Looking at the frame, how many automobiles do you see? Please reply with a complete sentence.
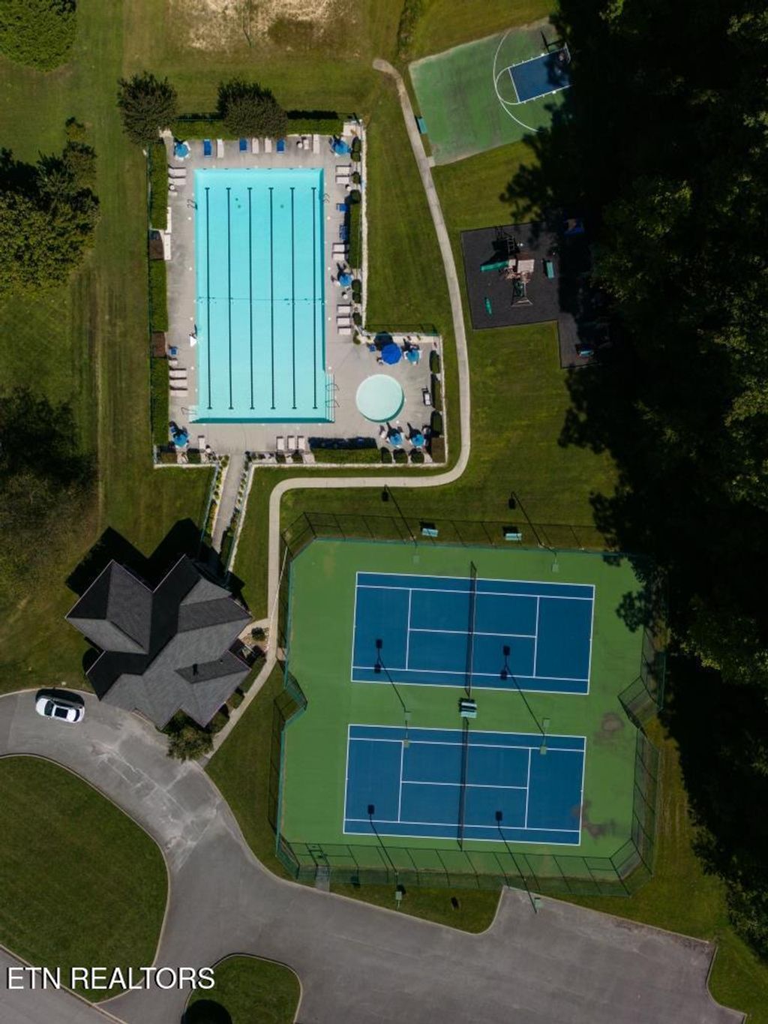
The picture shows 1 automobile.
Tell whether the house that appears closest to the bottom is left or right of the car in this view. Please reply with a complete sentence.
In the image, the house that appears closest to the bottom sits on the right side of the car.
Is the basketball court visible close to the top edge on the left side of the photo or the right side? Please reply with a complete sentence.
The basketball court visible close to the top edge is on the right side of the image.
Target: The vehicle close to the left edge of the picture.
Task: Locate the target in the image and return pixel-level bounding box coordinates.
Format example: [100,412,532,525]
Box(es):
[33,696,81,723]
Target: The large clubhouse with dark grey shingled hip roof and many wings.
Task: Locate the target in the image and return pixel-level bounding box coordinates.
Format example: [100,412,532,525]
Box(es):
[66,554,269,730]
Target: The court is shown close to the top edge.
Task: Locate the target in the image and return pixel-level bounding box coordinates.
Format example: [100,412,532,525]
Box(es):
[409,14,590,165]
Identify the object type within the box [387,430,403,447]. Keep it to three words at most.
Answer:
umbrella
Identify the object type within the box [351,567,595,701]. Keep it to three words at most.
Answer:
tennis court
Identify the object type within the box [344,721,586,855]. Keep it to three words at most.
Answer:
tennis court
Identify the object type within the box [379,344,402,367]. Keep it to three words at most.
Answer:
umbrella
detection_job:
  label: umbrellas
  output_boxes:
[334,140,350,157]
[379,344,402,367]
[174,143,191,160]
[409,432,425,448]
[387,430,403,447]
[337,273,353,289]
[172,430,189,447]
[405,349,421,365]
